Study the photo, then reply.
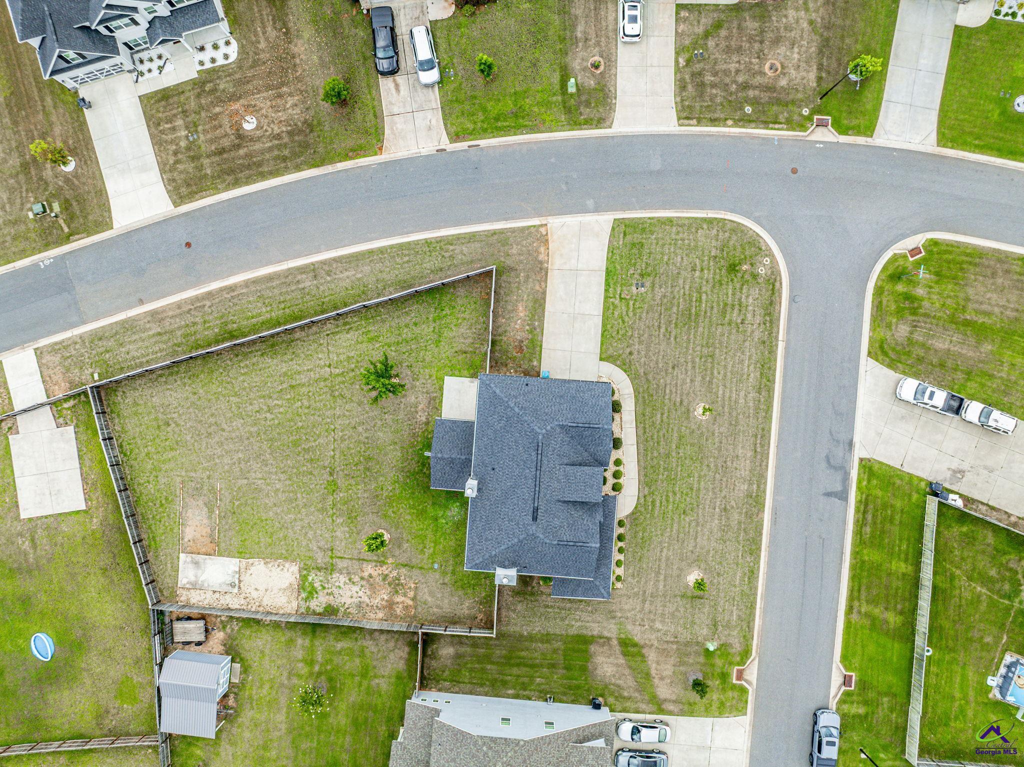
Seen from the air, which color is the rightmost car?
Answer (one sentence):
The color of the rightmost car is white.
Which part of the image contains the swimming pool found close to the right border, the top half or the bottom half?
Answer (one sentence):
The bottom half of the photo is where the swimming pool found close to the right border is.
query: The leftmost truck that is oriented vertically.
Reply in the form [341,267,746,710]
[370,7,400,77]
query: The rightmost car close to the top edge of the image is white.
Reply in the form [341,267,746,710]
[621,0,648,43]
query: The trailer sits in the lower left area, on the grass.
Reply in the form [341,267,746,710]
[159,615,217,646]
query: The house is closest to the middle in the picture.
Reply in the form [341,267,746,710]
[424,372,619,601]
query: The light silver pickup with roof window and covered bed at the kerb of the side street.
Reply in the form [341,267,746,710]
[809,707,841,767]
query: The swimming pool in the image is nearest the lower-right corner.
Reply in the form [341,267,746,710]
[982,645,1024,712]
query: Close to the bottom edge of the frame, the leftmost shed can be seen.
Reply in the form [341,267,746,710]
[154,650,232,739]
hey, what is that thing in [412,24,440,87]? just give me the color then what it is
white car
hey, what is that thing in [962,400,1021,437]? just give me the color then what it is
white car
